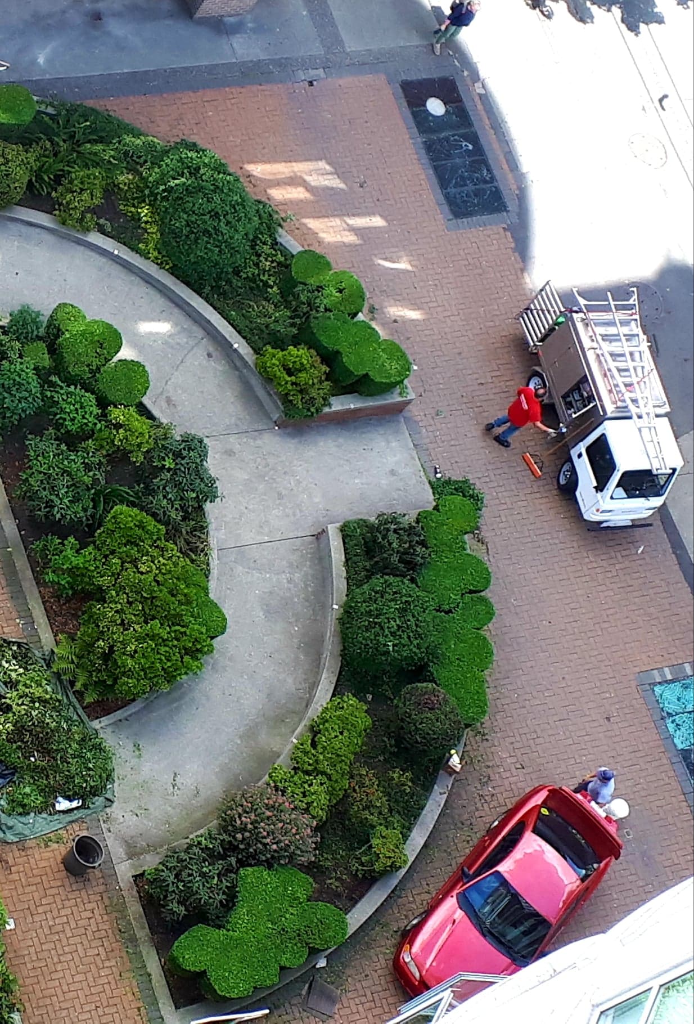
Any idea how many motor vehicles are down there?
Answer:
2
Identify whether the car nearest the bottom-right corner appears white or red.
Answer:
red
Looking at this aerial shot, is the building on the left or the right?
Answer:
right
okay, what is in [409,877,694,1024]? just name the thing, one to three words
building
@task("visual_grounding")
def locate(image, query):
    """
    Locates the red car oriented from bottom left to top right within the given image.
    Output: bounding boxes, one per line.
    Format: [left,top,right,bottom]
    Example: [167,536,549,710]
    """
[395,786,618,1014]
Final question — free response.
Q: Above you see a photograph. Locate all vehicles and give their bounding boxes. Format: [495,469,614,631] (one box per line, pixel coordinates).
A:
[521,279,680,528]
[395,786,618,1014]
